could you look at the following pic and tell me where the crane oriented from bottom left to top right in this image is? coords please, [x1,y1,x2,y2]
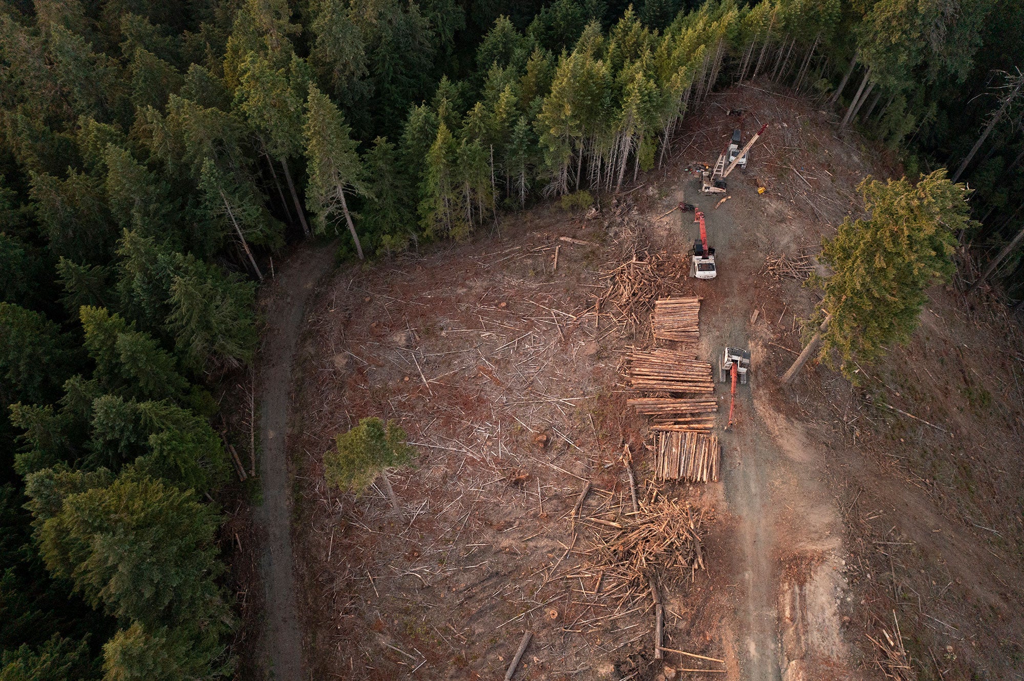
[697,123,768,194]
